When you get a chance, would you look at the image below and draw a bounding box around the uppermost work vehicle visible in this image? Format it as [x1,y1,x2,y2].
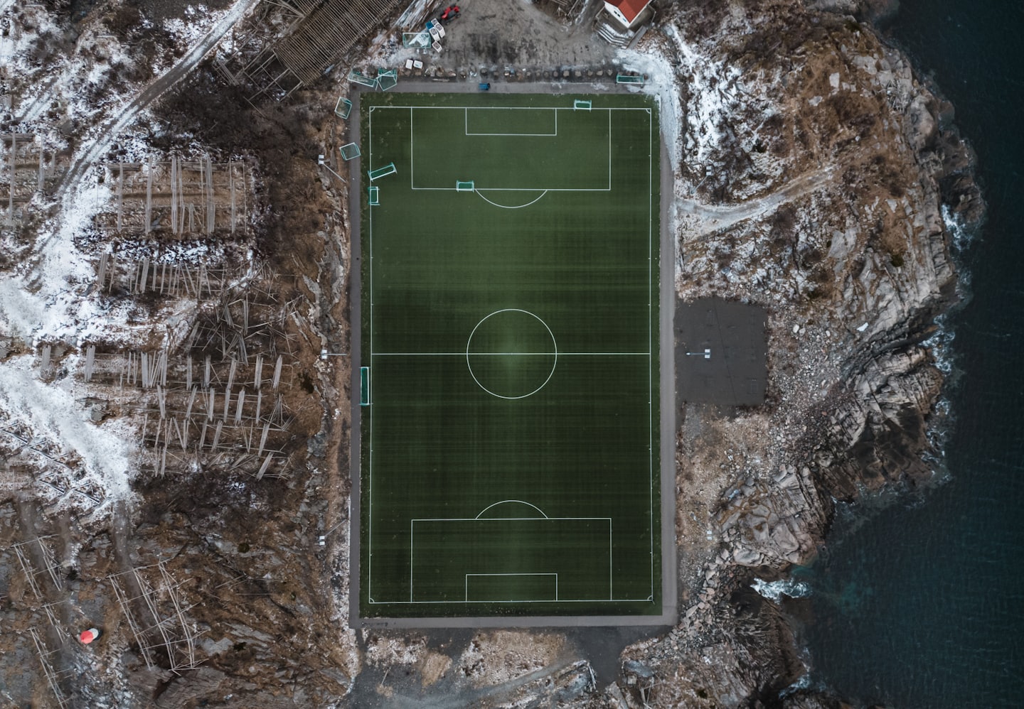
[437,0,461,25]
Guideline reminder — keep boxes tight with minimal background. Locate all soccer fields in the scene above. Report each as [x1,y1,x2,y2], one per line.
[359,92,662,617]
